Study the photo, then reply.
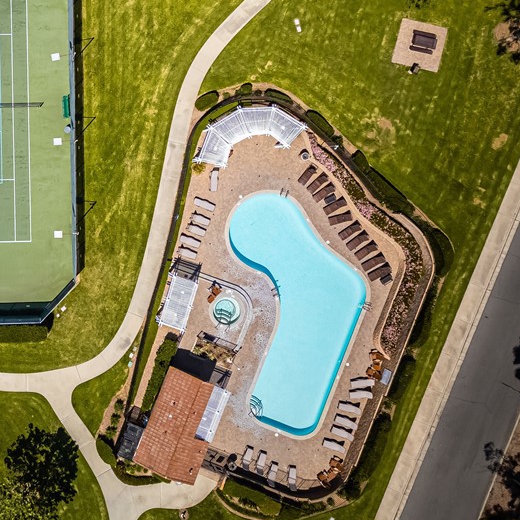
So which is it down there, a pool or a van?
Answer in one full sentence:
Of the two, only a pool appears.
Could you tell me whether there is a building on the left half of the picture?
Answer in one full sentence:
Yes, a building shows up on the left half of the picture.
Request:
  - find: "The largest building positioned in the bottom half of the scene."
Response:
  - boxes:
[130,364,214,485]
